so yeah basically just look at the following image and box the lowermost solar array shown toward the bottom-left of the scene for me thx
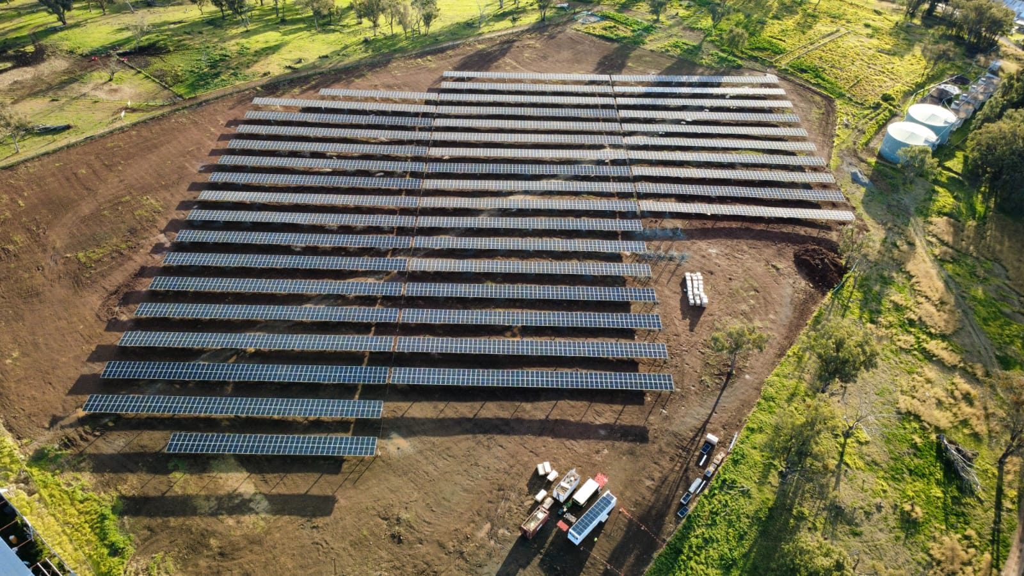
[164,433,378,456]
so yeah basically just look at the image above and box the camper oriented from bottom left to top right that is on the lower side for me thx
[568,490,617,542]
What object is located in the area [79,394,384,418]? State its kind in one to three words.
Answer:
solar array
